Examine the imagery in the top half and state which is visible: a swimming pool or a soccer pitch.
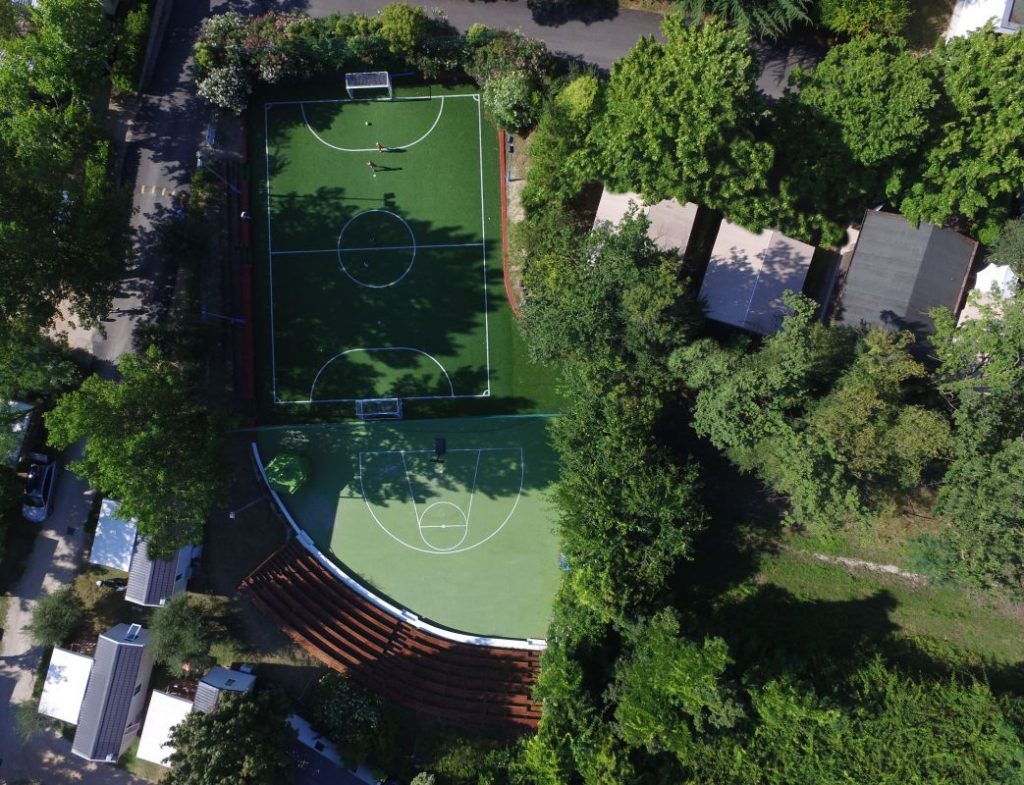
soccer pitch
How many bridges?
none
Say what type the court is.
basketball court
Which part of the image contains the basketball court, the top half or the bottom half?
bottom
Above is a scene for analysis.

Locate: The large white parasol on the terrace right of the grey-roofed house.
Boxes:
[967,258,1019,305]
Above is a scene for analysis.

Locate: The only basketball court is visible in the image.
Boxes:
[254,416,569,638]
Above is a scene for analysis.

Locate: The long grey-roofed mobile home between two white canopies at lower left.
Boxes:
[71,625,159,763]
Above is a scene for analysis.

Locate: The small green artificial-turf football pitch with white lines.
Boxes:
[251,72,574,431]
